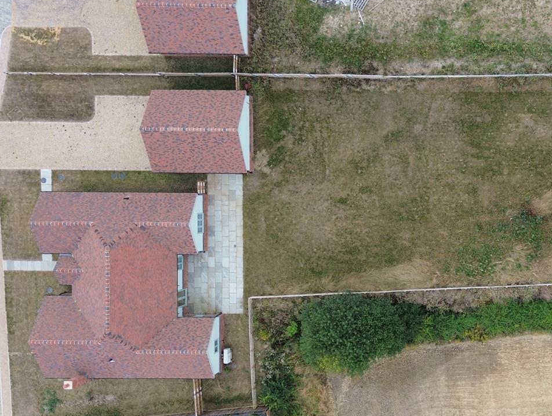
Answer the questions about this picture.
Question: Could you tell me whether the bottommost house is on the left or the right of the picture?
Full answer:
The bottommost house is on the left side of the image.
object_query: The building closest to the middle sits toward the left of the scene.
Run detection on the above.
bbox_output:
[139,88,253,174]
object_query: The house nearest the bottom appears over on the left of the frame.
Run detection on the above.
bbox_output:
[27,191,225,390]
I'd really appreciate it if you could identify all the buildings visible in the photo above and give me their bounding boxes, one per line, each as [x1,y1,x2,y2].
[27,191,225,390]
[139,88,253,174]
[137,0,252,58]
